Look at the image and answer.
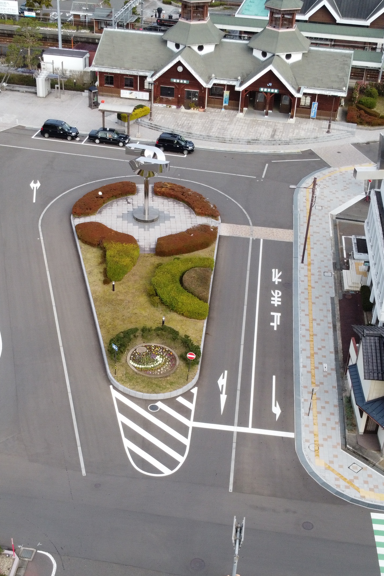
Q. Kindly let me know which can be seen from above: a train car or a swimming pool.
train car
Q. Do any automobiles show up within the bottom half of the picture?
No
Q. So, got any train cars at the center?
No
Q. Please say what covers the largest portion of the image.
paved ground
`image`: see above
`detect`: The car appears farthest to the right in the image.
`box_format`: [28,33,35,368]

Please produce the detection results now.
[155,129,197,152]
